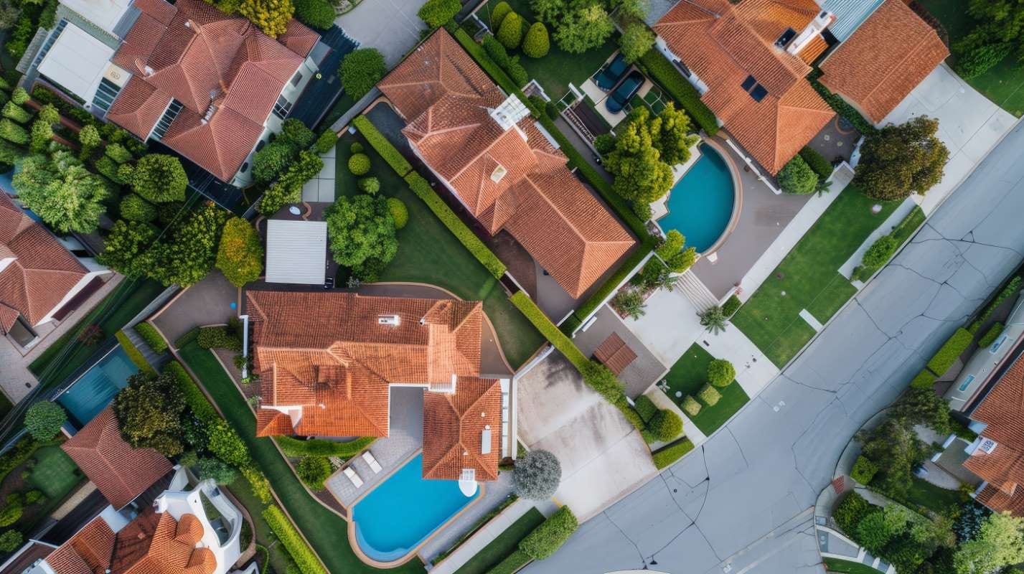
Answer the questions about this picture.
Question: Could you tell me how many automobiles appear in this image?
two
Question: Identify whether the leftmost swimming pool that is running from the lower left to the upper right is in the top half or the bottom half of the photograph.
bottom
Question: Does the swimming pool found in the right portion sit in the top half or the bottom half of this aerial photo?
top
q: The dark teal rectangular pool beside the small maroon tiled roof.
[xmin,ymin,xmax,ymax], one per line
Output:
[57,346,144,427]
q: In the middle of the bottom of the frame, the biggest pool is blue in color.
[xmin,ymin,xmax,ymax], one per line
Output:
[347,448,485,566]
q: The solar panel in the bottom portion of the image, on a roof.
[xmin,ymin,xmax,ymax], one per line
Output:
[972,433,998,456]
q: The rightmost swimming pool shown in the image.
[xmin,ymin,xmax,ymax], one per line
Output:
[655,134,744,263]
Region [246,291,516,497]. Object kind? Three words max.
house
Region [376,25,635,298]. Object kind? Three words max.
house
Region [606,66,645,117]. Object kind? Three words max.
car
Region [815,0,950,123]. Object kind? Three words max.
building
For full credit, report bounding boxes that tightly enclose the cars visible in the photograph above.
[595,44,633,92]
[606,66,645,117]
